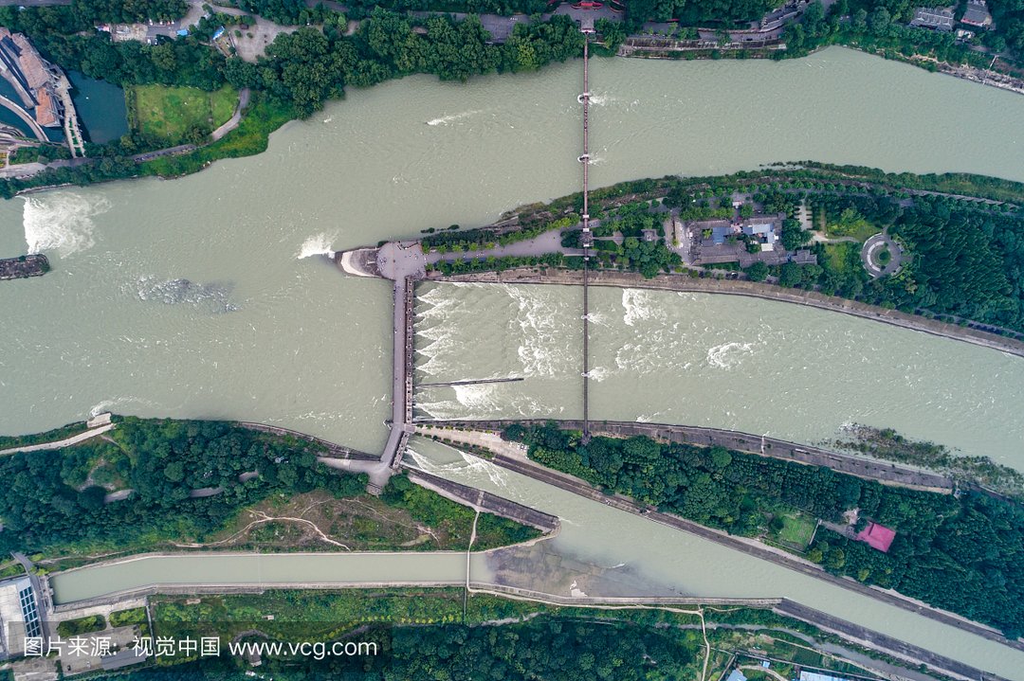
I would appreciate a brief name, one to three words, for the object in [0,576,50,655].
building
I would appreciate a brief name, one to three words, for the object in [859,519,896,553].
house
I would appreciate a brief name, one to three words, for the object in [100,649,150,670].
shed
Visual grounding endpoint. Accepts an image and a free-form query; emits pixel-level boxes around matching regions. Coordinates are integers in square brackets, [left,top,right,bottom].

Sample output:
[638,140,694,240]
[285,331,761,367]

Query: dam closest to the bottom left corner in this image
[380,424,415,469]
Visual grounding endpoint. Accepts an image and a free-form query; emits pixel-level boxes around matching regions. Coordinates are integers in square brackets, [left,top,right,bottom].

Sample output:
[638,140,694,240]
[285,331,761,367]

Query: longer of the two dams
[392,271,418,426]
